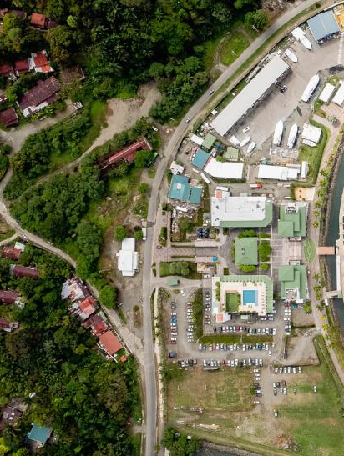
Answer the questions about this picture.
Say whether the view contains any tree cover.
Yes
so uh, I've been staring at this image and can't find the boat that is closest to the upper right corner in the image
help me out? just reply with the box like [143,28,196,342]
[298,33,312,49]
